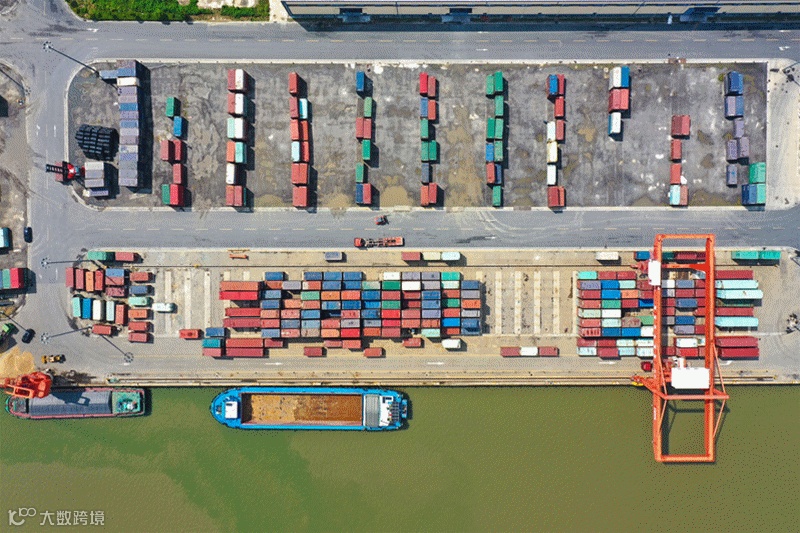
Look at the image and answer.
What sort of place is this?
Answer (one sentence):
This image shows a port.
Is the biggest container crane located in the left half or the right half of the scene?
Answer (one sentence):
It is on the right.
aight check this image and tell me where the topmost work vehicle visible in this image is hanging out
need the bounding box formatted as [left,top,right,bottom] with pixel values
[46,160,84,180]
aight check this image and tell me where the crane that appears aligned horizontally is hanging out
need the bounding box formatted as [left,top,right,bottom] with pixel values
[4,371,64,399]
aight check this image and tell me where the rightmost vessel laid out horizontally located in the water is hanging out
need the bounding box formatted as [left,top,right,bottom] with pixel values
[212,386,401,431]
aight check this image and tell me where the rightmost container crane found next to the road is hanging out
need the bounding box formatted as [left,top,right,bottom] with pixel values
[622,237,730,460]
